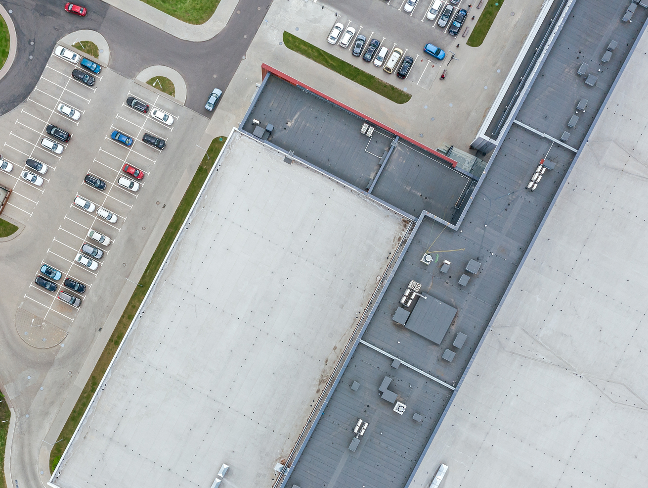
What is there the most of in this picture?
buildings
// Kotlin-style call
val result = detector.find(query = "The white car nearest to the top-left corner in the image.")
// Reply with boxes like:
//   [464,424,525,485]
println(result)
[55,46,81,65]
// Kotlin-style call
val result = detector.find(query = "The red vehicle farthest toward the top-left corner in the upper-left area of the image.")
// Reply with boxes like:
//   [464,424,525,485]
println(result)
[64,2,88,18]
